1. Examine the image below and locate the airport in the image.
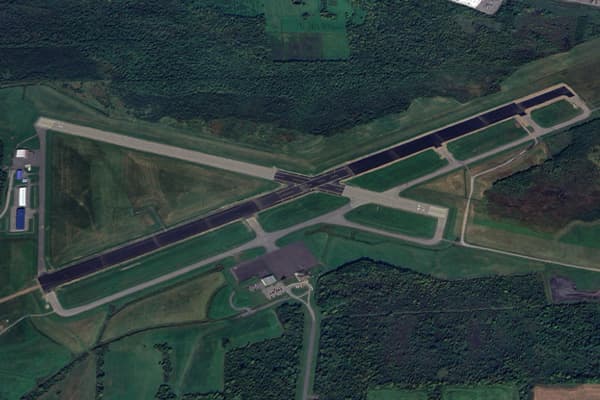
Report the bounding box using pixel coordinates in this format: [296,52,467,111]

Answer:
[10,84,591,317]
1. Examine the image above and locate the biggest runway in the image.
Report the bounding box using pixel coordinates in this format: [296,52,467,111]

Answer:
[37,84,591,294]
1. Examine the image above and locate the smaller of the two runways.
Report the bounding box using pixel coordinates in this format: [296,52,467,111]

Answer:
[35,117,448,218]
